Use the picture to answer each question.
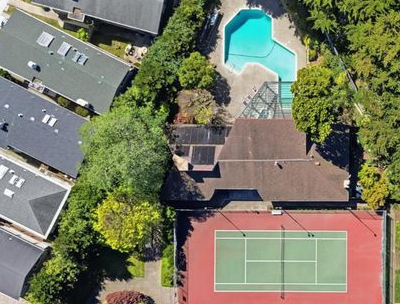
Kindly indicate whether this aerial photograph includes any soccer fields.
No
